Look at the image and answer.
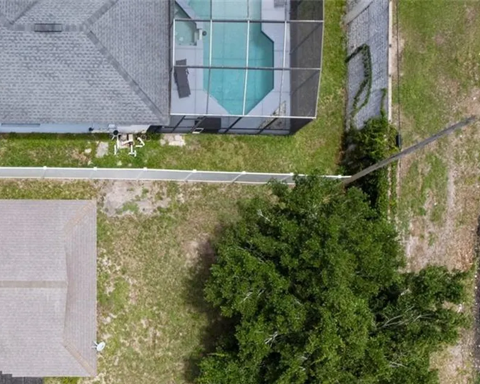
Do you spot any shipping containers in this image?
No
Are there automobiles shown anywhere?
No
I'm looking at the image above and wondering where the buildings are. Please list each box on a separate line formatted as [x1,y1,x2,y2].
[0,196,100,384]
[0,0,172,131]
